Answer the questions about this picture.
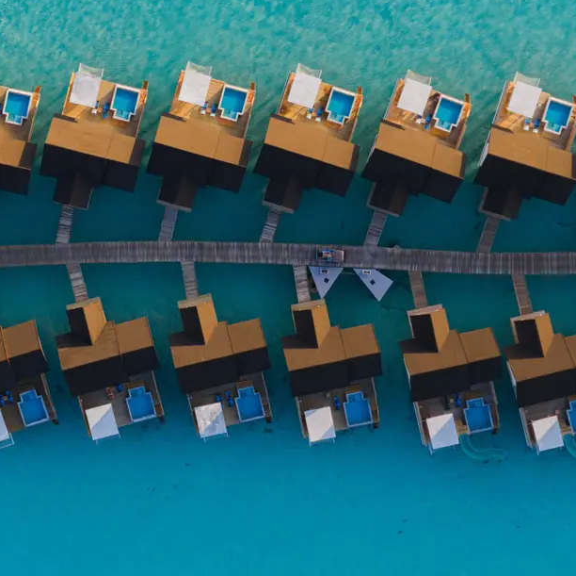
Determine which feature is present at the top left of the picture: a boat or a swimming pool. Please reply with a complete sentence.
The feature located at the top left of the picture is a swimming pool.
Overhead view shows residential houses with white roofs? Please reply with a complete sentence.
No, there appears to be no residential house with a white roof in this shot.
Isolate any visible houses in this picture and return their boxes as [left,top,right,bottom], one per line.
[504,309,576,454]
[473,71,576,224]
[399,305,503,451]
[361,67,473,221]
[0,320,61,452]
[149,61,258,214]
[280,300,383,444]
[41,61,151,214]
[254,61,365,216]
[56,297,167,441]
[168,296,273,440]
[0,86,44,199]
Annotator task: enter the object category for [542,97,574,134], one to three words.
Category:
swimming pool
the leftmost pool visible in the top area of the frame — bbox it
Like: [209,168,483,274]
[3,90,33,127]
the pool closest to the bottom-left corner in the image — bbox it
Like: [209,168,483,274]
[18,393,49,429]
